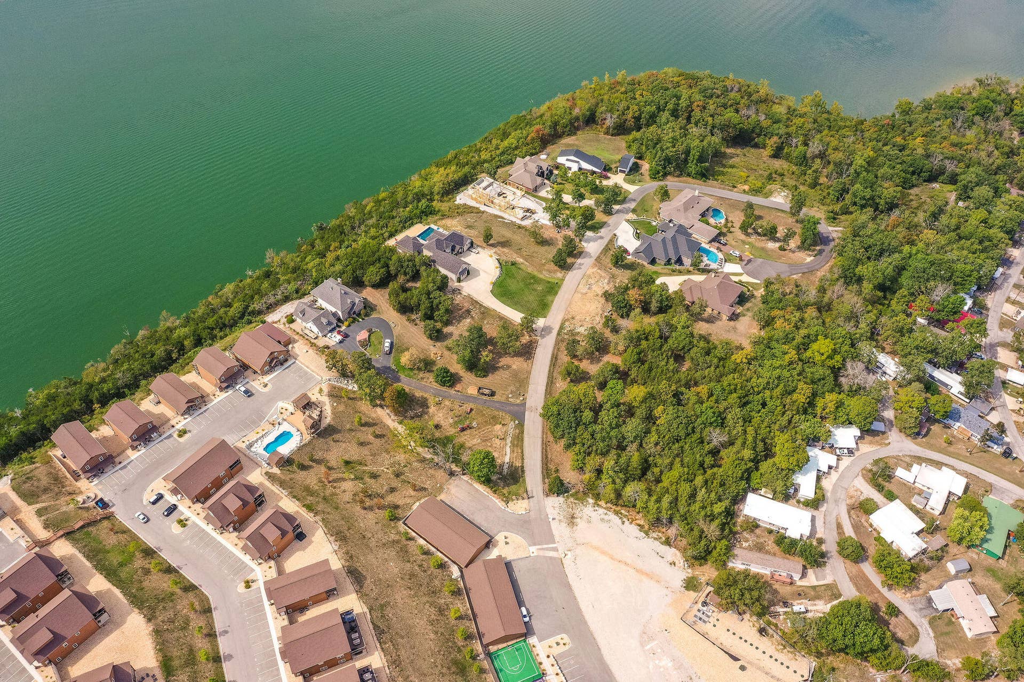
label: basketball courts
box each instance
[490,639,542,682]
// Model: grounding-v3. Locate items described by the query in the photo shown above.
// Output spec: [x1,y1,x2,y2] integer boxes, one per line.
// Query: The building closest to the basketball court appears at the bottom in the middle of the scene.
[463,556,526,648]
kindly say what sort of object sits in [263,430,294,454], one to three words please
swimming pool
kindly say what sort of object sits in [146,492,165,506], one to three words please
car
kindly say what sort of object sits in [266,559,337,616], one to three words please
building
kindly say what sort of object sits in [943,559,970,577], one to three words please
shed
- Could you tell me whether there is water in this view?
Yes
